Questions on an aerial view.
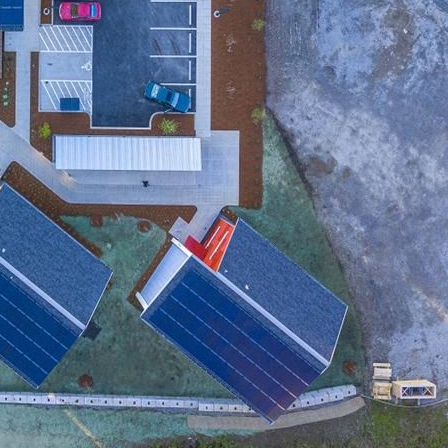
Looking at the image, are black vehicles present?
No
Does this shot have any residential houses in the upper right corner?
No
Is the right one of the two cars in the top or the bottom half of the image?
top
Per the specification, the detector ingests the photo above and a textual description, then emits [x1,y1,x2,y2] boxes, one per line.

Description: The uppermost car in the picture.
[60,0,102,21]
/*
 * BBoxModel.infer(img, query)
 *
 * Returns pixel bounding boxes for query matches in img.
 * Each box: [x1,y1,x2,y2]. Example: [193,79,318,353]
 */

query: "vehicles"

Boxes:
[146,80,195,114]
[60,0,102,21]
